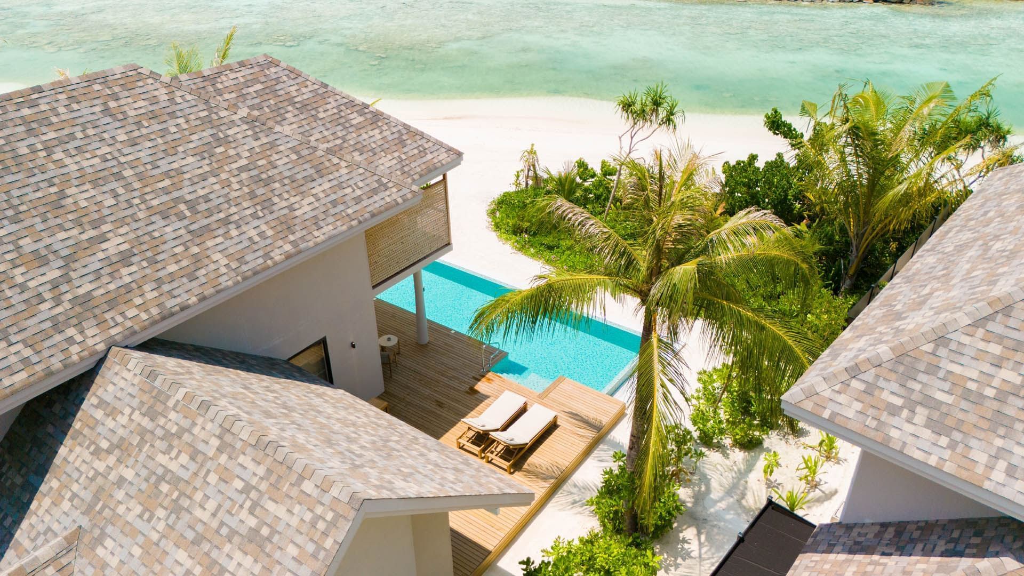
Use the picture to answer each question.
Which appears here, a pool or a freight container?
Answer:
pool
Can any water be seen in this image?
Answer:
Yes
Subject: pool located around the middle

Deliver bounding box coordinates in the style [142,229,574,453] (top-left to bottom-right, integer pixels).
[374,259,661,399]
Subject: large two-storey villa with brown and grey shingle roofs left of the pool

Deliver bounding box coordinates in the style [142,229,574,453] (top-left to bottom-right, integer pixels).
[0,54,535,576]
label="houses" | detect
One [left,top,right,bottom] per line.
[0,54,535,576]
[777,163,1024,576]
